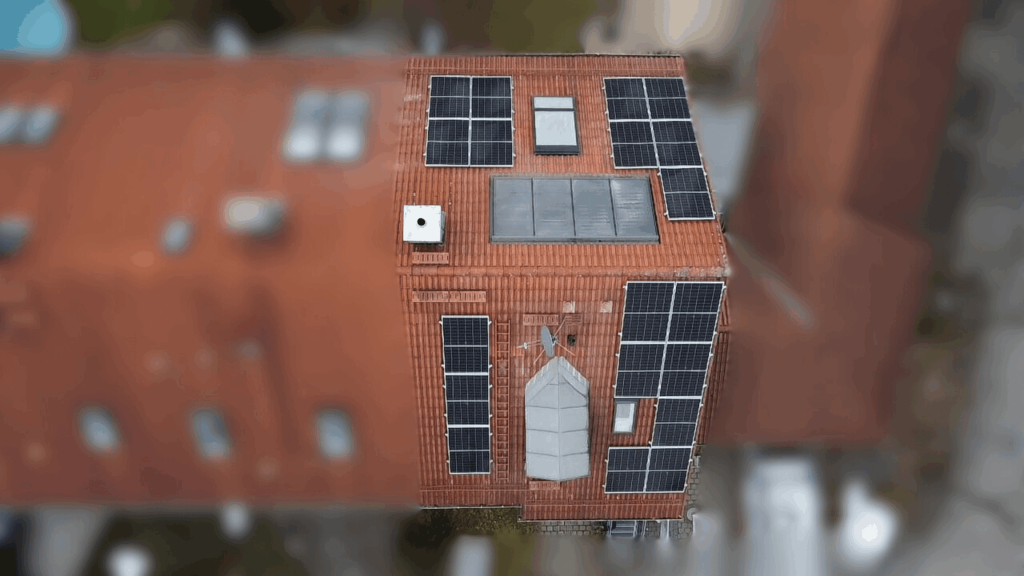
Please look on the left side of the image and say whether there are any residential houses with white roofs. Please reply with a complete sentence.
No, there is no residential house with a white roof on the left side of the image.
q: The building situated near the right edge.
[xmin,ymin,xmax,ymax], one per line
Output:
[698,0,983,448]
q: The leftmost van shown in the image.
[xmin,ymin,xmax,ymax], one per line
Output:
[739,450,819,576]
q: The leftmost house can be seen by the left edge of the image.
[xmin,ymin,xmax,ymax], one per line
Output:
[0,51,240,515]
